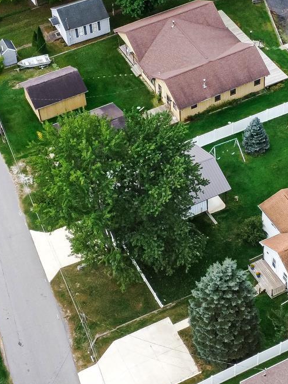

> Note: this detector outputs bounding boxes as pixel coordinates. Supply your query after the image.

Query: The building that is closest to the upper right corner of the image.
[113,2,275,121]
